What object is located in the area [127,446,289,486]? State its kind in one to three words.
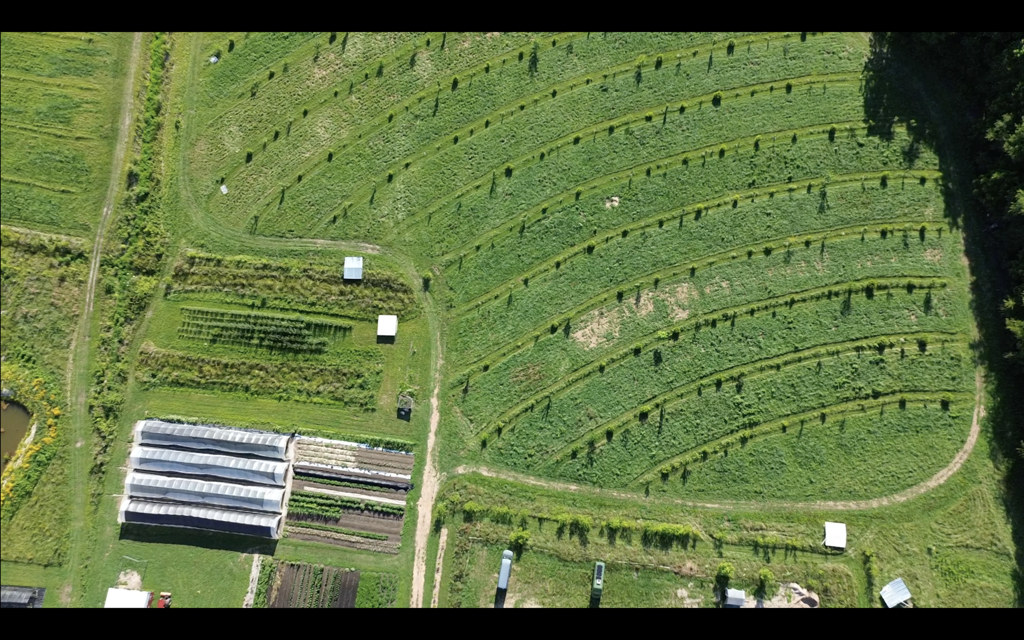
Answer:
greenhouse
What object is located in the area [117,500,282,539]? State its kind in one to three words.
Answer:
greenhouse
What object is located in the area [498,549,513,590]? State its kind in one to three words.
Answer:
vehicle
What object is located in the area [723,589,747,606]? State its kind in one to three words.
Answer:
shed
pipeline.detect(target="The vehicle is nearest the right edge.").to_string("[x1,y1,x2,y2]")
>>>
[589,562,605,600]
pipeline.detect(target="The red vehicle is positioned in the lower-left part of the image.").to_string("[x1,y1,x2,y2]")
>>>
[158,590,172,608]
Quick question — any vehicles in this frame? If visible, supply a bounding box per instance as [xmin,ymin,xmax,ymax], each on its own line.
[158,590,172,608]
[498,549,513,590]
[589,562,605,600]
